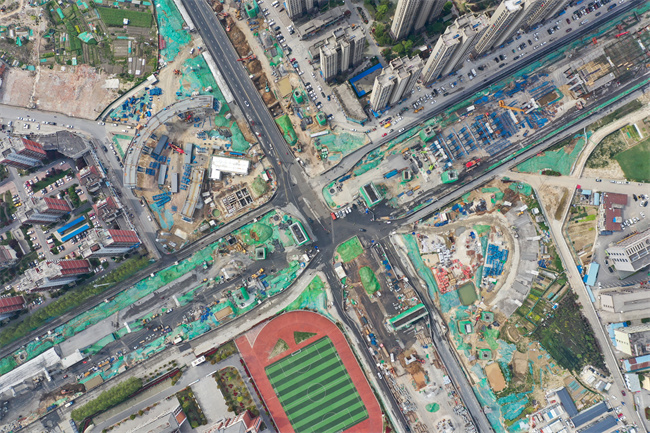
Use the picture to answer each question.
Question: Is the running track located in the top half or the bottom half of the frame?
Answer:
bottom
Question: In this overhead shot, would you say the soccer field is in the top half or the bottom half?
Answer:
bottom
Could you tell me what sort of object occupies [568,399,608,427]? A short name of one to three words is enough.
shed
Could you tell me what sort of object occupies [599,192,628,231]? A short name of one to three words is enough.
house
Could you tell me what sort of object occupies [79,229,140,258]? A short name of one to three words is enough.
building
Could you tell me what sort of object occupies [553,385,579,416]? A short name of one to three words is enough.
shed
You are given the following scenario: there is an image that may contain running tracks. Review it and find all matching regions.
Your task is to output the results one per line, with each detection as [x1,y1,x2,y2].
[234,310,383,433]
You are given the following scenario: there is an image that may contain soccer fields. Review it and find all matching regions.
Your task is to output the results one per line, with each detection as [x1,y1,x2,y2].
[265,336,368,433]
